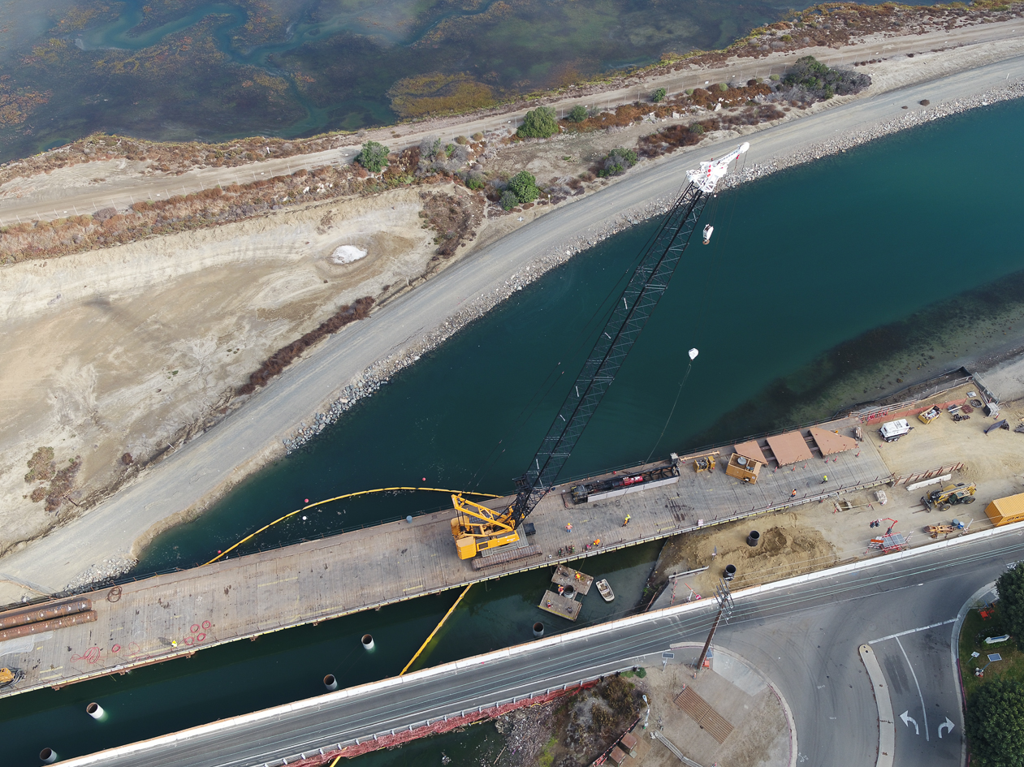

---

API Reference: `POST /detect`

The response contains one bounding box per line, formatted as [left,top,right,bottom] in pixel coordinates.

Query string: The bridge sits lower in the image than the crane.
[30,562,853,767]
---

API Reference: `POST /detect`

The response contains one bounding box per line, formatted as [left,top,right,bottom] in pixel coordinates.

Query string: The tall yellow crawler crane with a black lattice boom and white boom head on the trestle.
[450,138,752,572]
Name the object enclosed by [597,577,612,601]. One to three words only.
boat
